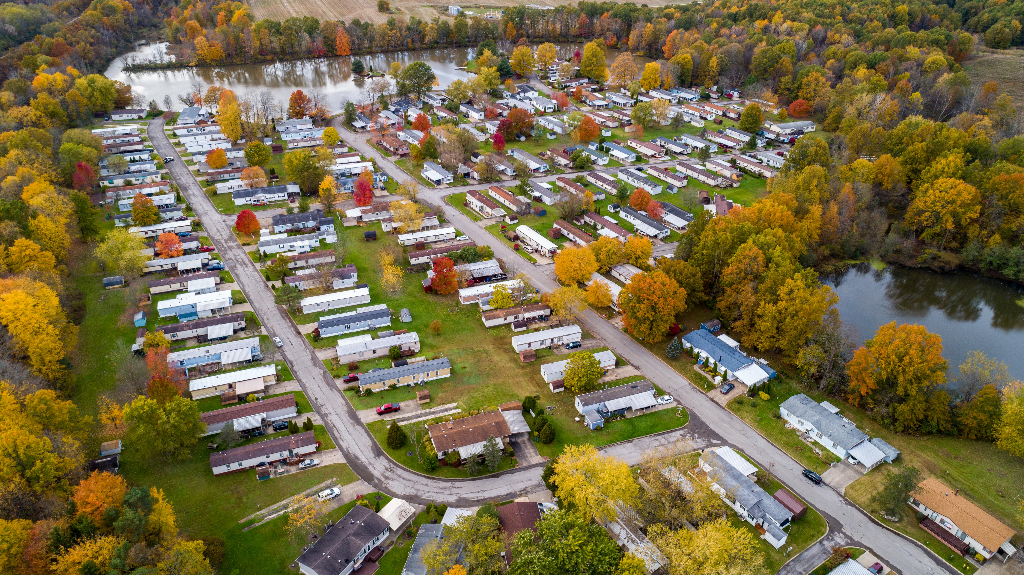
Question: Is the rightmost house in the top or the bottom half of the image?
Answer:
bottom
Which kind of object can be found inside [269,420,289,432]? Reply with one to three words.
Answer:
vehicle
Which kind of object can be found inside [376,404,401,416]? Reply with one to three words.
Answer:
vehicle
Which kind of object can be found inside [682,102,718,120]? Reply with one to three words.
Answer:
house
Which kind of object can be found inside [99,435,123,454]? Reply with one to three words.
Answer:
shed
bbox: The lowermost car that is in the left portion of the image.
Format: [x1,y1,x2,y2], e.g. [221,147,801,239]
[316,487,340,502]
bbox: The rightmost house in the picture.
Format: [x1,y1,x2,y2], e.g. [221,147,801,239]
[910,477,1018,569]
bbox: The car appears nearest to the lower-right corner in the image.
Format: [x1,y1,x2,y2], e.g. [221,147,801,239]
[868,561,891,574]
